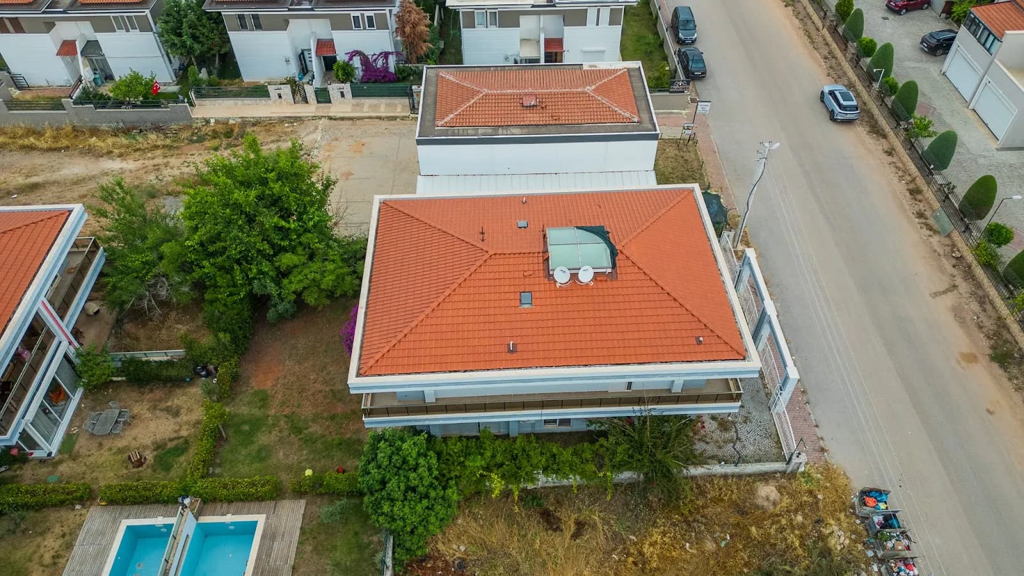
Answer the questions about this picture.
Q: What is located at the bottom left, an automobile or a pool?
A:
pool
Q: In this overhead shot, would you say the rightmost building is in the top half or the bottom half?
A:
top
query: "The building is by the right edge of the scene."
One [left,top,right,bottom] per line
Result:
[942,0,1024,149]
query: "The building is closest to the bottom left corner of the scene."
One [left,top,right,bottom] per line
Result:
[0,204,106,456]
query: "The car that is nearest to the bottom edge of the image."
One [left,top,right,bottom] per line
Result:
[814,81,861,121]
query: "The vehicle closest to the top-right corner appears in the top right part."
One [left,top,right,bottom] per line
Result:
[916,23,962,51]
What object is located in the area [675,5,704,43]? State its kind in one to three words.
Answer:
van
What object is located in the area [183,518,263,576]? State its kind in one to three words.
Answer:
swimming pool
